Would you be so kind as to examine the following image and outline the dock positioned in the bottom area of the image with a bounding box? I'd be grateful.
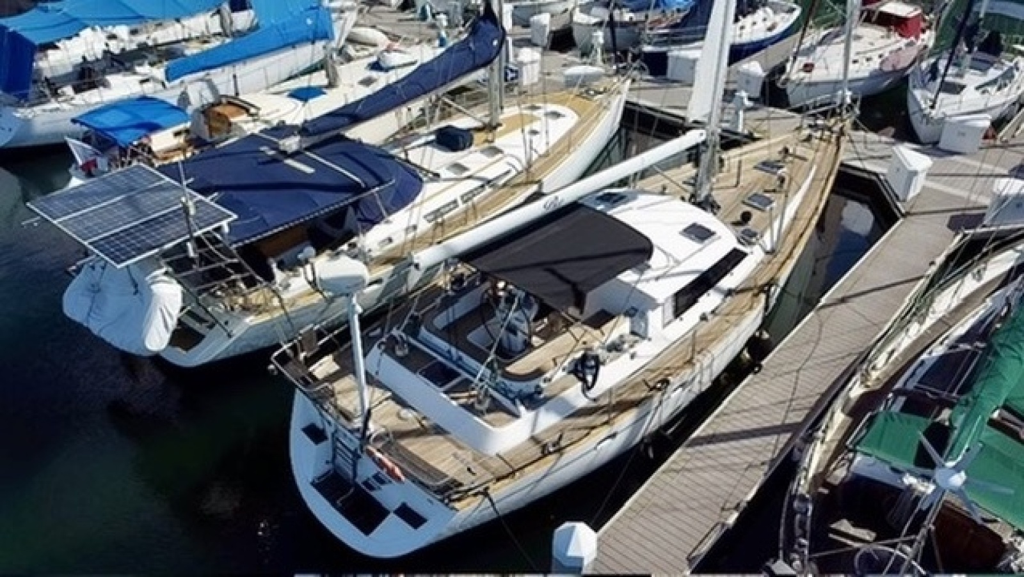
[550,181,981,577]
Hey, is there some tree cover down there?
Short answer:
No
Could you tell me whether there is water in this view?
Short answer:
Yes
